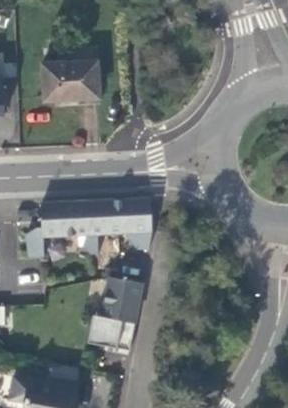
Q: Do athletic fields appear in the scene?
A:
No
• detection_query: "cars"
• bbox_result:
[26,112,50,123]
[122,266,140,276]
[107,100,120,120]
[18,274,40,284]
